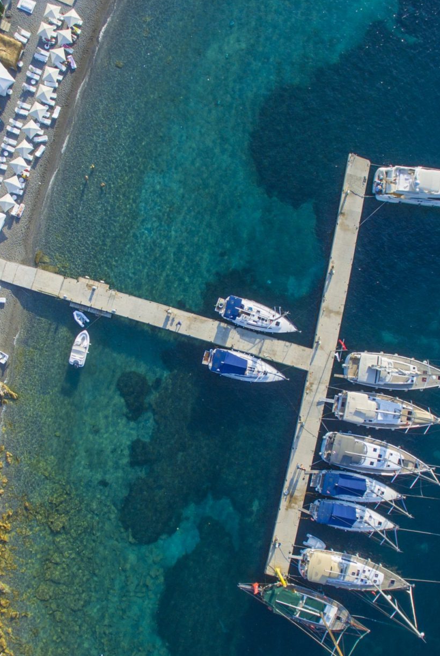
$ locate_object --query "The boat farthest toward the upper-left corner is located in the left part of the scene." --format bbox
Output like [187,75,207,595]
[73,310,90,327]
